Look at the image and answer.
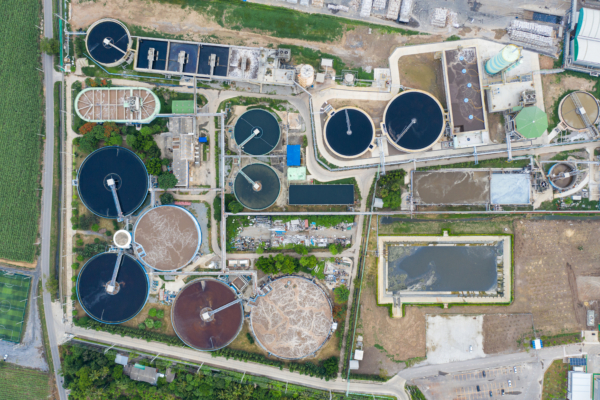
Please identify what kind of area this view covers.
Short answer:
industrial area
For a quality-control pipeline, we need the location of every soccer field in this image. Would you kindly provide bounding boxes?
[0,269,35,348]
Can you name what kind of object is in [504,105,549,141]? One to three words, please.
storage tank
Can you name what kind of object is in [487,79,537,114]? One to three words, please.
building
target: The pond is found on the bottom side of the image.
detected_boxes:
[369,229,512,318]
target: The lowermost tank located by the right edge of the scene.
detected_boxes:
[544,162,589,191]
